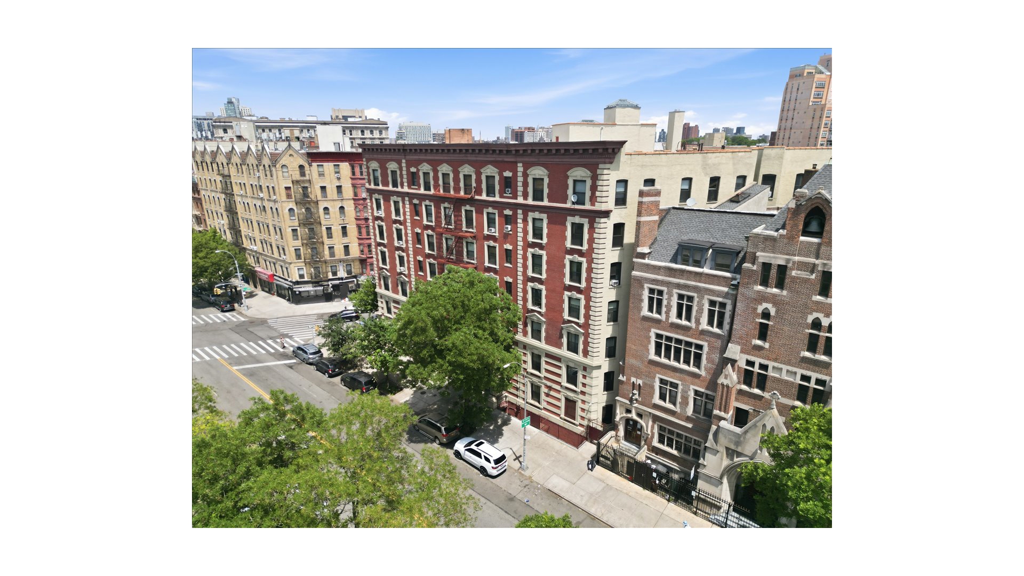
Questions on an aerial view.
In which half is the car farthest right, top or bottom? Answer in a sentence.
It is in the bottom half that the car farthest right appears.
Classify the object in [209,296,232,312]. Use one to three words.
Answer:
car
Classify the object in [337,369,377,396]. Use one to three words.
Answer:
car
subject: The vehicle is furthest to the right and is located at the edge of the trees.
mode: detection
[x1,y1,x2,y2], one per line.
[451,435,510,477]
